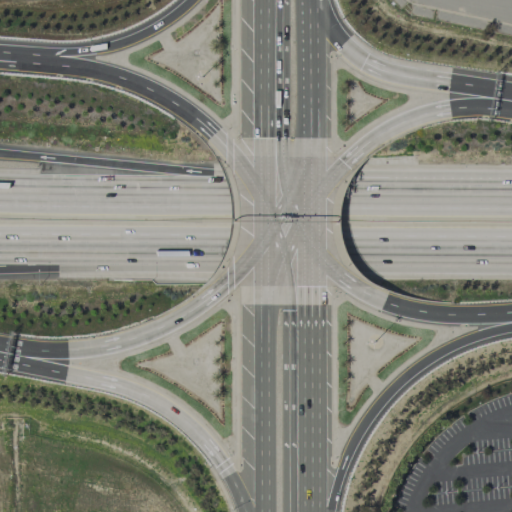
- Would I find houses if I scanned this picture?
No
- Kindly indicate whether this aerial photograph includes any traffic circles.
No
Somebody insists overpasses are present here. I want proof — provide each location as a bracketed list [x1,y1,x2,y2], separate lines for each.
[202,129,384,310]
